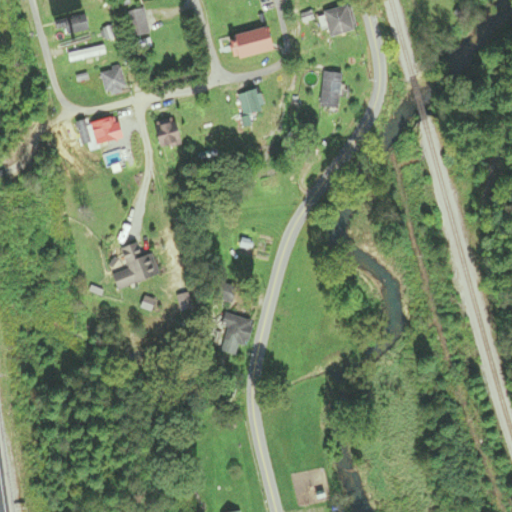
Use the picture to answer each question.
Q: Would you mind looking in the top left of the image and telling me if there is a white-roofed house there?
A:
Yes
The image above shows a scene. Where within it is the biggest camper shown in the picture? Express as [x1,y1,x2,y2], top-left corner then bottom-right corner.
[118,223,130,245]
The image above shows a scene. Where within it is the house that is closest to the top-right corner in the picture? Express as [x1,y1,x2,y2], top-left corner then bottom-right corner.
[318,3,355,34]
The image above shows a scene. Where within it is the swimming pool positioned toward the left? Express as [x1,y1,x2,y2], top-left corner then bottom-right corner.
[104,149,123,166]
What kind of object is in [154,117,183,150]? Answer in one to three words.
house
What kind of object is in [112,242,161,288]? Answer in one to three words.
house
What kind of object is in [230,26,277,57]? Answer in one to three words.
building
